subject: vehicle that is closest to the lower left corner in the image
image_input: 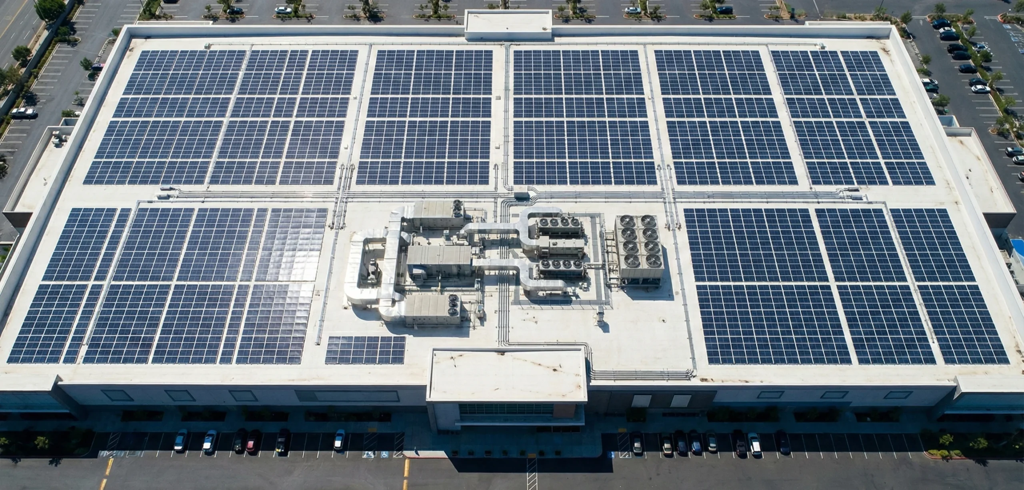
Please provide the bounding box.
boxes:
[173,429,189,453]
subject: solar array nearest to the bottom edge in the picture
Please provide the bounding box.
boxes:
[325,336,406,365]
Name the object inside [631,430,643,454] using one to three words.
vehicle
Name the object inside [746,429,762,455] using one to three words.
car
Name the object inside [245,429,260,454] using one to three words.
car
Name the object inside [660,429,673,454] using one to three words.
vehicle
